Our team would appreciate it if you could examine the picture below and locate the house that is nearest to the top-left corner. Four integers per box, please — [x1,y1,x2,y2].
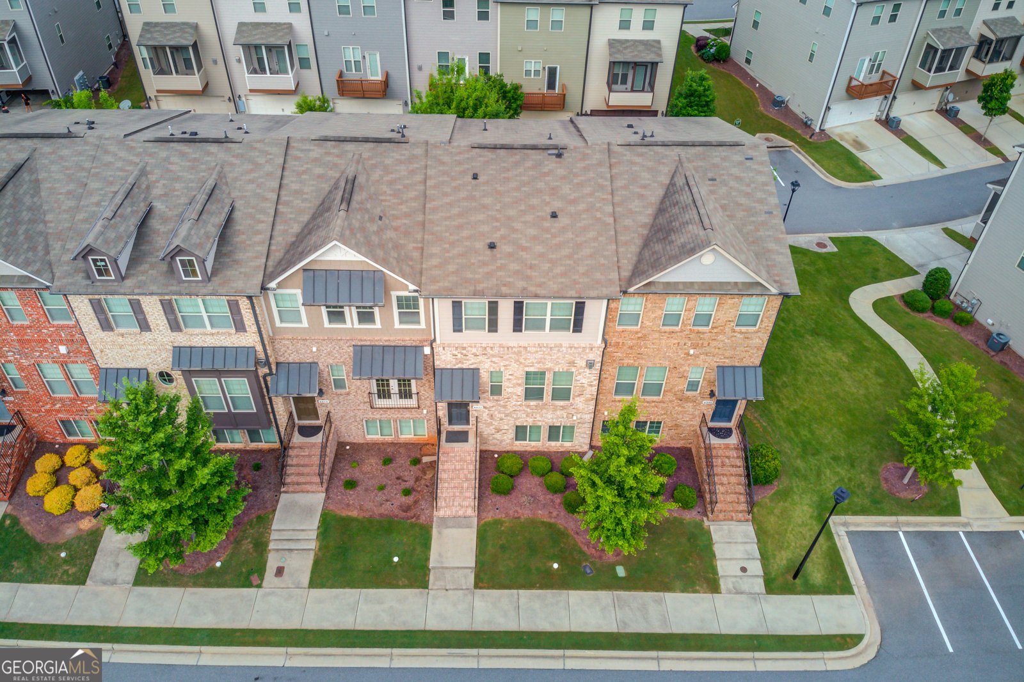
[0,0,126,99]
